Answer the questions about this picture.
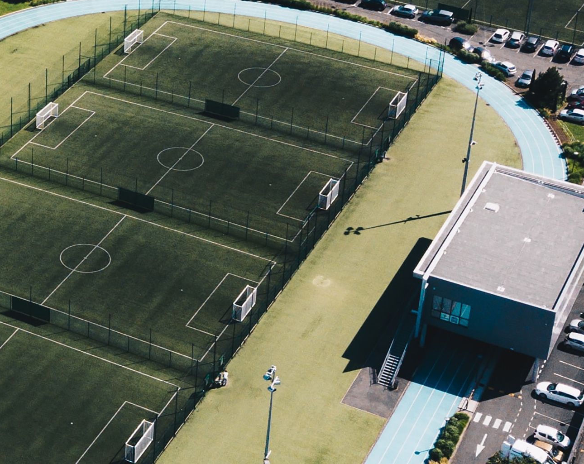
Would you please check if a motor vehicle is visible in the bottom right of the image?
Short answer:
Yes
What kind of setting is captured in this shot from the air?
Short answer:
sports ground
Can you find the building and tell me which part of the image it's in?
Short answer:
right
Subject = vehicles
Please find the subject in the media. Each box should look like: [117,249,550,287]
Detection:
[491,29,509,44]
[540,42,558,57]
[447,37,476,53]
[570,88,584,100]
[562,332,584,350]
[495,428,559,464]
[216,372,229,388]
[555,45,575,62]
[526,418,575,452]
[360,0,388,12]
[506,32,526,49]
[422,10,454,26]
[535,432,567,463]
[516,68,538,87]
[573,51,584,66]
[523,37,542,53]
[568,100,584,111]
[558,109,584,126]
[392,5,420,19]
[534,384,584,411]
